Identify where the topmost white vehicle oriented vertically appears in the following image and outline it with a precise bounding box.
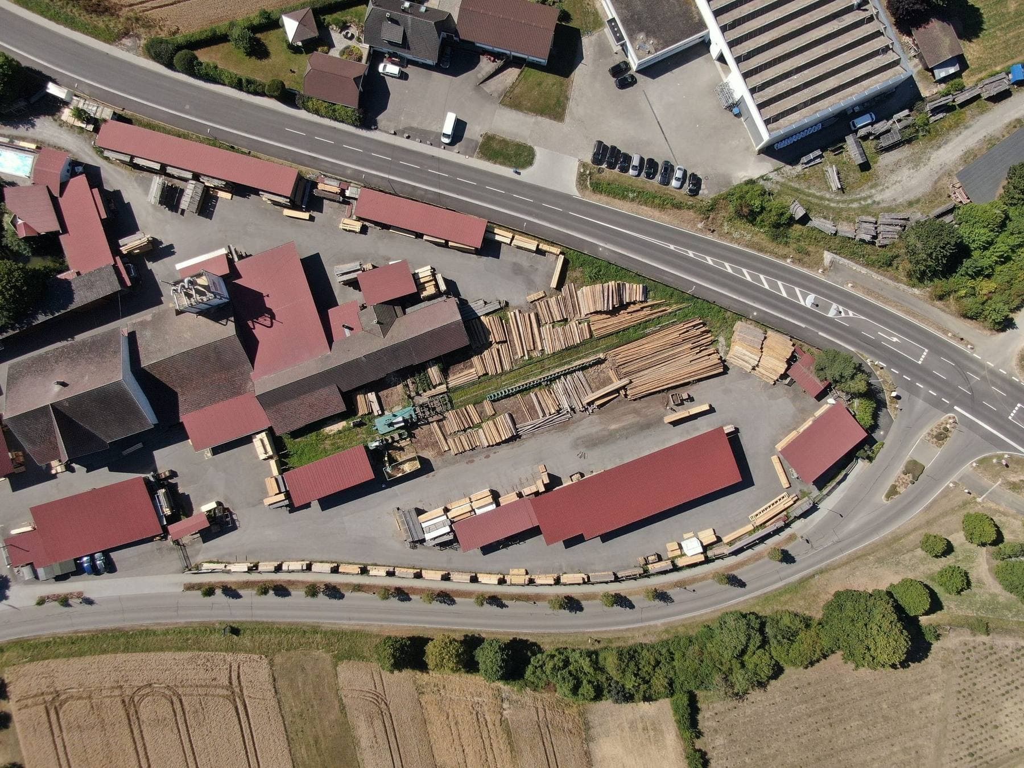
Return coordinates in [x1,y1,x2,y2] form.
[442,112,457,145]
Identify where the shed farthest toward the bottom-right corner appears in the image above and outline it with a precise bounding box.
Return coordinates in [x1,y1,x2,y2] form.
[772,401,867,484]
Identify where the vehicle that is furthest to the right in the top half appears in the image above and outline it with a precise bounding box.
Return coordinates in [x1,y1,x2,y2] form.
[847,112,877,131]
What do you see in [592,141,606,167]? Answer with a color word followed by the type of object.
black car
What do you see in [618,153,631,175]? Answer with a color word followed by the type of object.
black vehicle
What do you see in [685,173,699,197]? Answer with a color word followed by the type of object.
black car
